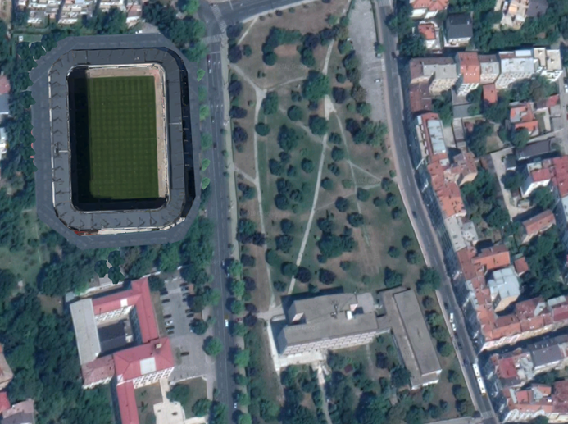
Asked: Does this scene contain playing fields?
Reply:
Yes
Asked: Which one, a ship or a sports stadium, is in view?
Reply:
sports stadium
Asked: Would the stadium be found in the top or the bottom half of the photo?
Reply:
top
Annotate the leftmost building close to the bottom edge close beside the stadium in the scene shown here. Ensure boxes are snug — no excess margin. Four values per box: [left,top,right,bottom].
[69,279,174,424]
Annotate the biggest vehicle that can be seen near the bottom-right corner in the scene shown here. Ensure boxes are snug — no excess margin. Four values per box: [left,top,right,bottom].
[474,365,486,392]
